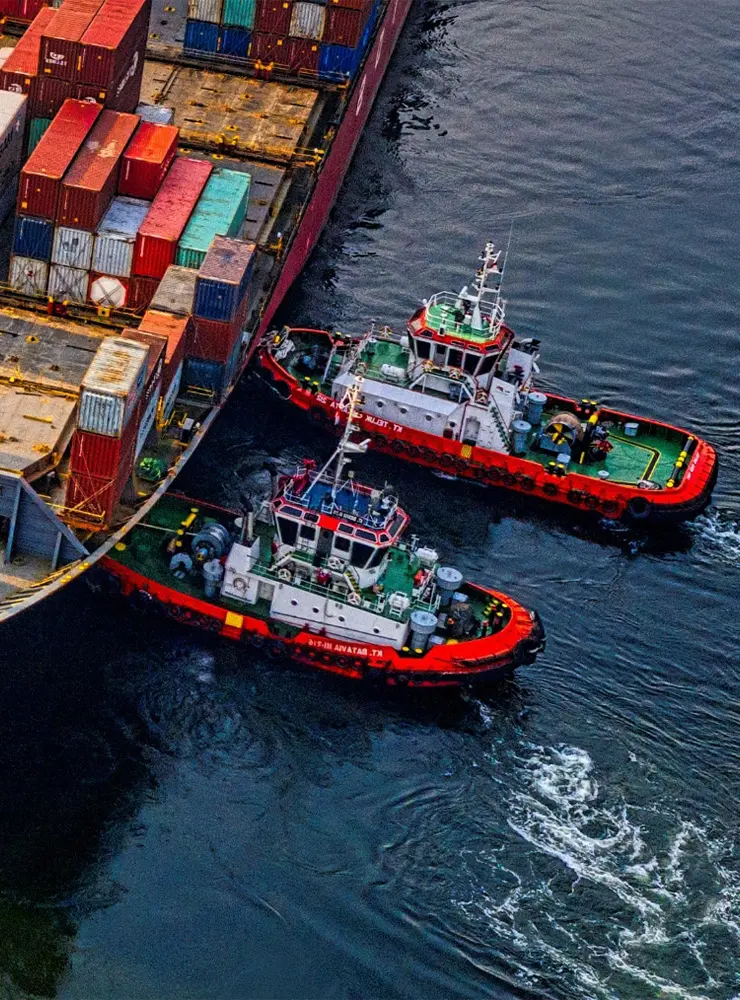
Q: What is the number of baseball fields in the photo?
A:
0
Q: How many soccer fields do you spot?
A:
0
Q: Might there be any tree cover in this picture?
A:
No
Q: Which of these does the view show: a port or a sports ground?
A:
port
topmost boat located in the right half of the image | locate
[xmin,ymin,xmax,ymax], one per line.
[254,213,719,521]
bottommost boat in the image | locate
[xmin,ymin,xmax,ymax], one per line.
[91,372,538,695]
